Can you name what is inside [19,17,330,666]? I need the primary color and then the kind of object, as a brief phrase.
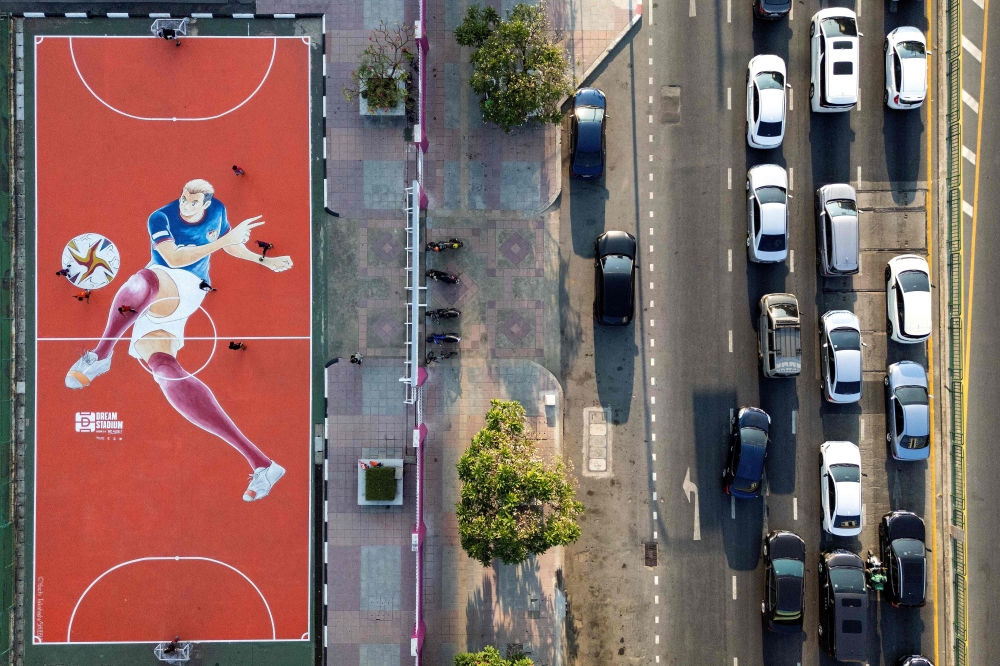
red sports court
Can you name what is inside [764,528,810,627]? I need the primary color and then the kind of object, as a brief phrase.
black car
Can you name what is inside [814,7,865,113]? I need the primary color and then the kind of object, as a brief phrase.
white vehicle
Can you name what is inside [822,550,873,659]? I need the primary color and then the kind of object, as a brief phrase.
black vehicle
